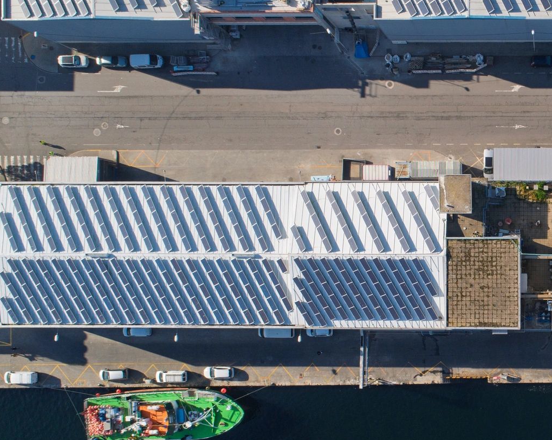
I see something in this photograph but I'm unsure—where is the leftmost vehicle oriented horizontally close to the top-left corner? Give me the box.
[61,54,93,70]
